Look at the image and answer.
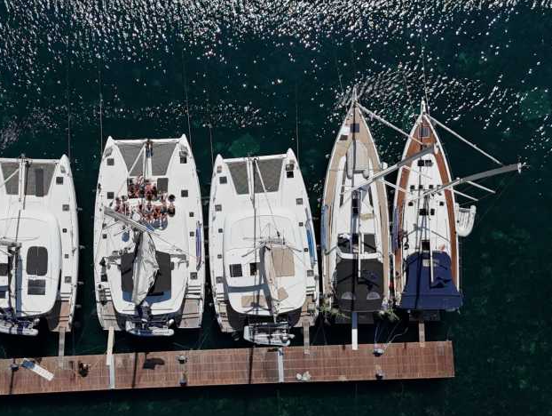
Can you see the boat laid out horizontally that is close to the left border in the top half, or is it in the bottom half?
bottom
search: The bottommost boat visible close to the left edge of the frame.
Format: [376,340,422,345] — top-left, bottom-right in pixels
[0,316,46,341]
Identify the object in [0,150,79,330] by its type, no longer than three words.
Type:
boat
